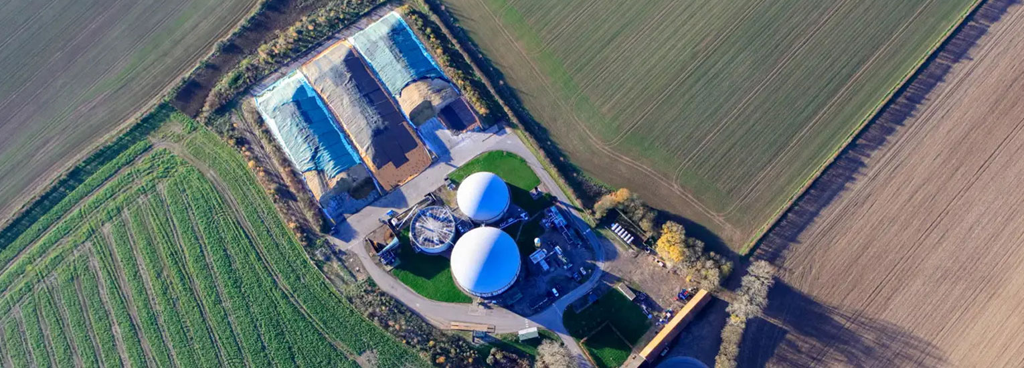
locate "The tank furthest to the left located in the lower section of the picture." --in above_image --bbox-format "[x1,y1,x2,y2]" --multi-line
[409,206,459,256]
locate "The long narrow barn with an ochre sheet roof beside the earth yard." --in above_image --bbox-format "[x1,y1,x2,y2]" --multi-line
[635,287,712,364]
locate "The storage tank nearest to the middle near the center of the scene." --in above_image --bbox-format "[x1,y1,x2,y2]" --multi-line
[455,171,511,226]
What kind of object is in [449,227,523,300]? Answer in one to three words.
storage tank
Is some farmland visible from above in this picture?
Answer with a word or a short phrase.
Yes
